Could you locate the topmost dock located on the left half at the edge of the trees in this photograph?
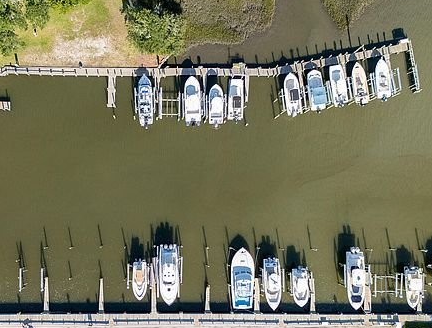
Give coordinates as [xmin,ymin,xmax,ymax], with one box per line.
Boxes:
[0,64,269,80]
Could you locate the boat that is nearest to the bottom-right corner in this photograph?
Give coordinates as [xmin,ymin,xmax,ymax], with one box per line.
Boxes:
[403,264,425,309]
